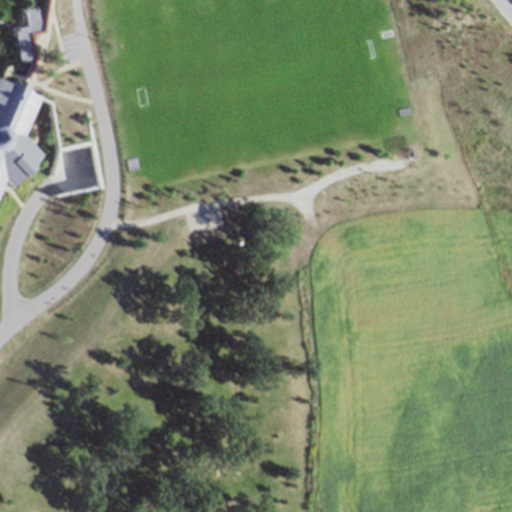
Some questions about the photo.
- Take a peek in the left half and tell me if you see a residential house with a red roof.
No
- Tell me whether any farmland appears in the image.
Yes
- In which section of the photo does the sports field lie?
top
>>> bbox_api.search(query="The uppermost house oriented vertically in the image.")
[16,8,42,62]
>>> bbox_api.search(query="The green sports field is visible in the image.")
[94,0,410,186]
